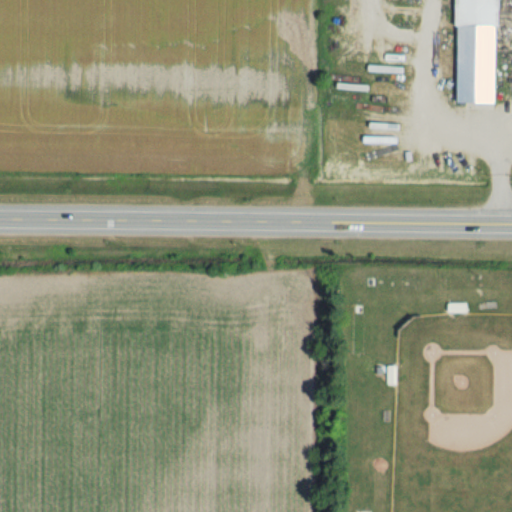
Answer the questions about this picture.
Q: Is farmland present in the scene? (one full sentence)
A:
Yes, farmland shows up in the scene.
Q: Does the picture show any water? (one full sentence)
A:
No, no water is visible.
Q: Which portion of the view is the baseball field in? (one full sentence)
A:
Look in the bottom right portion of the view to spot the baseball field.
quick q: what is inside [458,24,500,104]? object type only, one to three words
building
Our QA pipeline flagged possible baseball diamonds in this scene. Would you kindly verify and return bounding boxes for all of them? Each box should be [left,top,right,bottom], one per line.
[392,314,512,512]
